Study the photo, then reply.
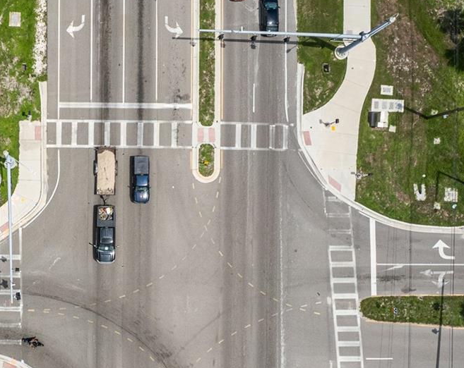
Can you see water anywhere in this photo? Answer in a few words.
No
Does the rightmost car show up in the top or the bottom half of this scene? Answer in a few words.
top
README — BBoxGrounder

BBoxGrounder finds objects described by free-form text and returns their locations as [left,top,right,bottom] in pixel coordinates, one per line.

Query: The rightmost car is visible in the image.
[259,0,282,39]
